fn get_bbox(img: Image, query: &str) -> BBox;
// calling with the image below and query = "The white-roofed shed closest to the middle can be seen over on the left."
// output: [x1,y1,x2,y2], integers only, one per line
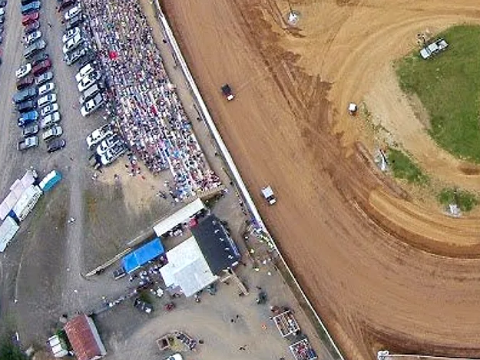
[154,199,208,241]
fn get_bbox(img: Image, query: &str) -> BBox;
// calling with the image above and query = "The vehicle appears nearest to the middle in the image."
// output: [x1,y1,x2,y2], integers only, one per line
[259,183,277,208]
